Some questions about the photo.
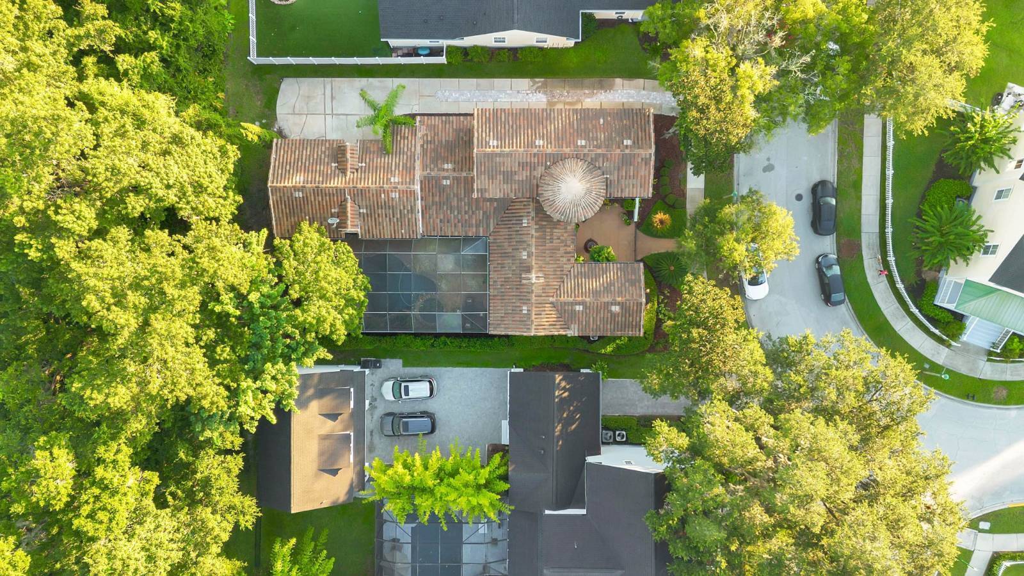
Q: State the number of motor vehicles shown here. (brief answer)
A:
5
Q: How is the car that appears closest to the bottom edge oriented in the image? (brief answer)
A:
from side to side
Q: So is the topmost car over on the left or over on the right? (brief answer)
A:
right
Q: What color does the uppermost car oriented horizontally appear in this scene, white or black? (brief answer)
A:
white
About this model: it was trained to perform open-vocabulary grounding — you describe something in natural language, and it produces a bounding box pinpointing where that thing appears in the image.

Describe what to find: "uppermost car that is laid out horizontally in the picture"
[383,375,437,402]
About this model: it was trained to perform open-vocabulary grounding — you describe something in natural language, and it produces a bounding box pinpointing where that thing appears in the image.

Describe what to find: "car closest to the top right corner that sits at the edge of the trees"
[808,181,838,236]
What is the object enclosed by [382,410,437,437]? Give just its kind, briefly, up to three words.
car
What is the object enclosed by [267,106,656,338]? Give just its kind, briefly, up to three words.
house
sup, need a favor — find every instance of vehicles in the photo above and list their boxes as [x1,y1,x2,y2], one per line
[813,254,842,306]
[808,181,838,236]
[383,375,437,402]
[743,246,771,300]
[382,410,437,437]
